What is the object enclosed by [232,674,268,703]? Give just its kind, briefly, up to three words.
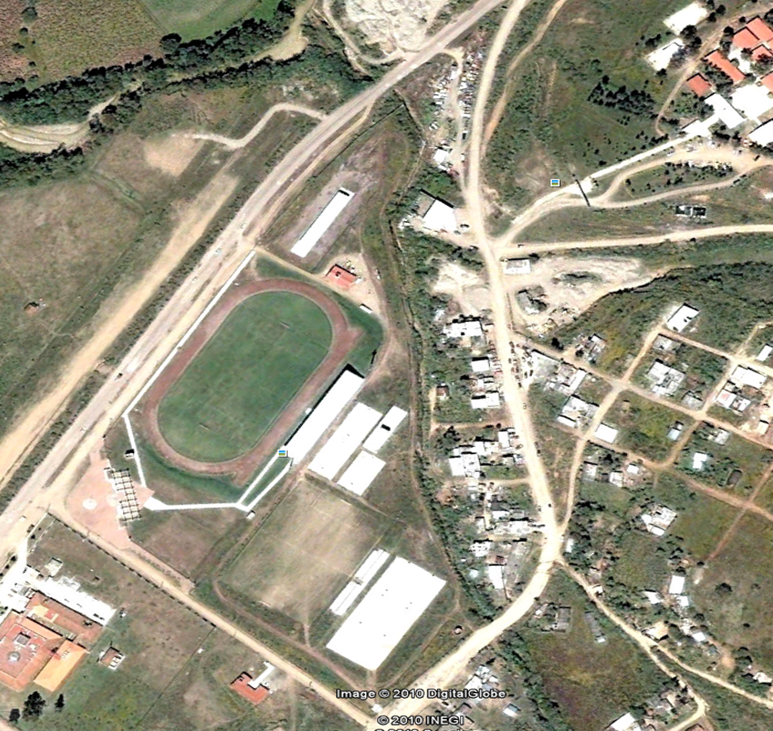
house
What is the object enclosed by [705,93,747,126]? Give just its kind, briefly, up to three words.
building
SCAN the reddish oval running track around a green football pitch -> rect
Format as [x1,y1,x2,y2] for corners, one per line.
[151,271,362,483]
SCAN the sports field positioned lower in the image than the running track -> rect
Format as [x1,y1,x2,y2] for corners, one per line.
[230,480,392,622]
